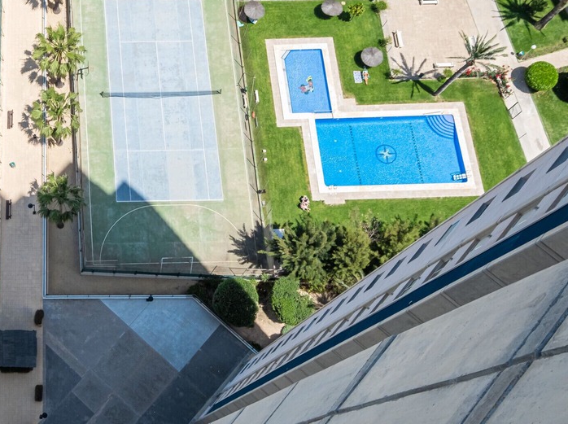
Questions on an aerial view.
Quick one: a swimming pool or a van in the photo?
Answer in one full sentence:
The image shows a swimming pool.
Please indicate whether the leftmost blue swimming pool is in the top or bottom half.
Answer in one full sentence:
The top half of the photo is where the leftmost blue swimming pool is.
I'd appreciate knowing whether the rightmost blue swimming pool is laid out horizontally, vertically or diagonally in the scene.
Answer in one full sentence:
In this picture, the rightmost blue swimming pool lies horizontally.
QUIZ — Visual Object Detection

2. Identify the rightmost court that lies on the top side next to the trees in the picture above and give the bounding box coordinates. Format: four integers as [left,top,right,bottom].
[73,0,264,276]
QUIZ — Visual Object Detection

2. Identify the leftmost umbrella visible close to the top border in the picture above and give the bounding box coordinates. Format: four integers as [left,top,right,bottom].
[240,1,264,21]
